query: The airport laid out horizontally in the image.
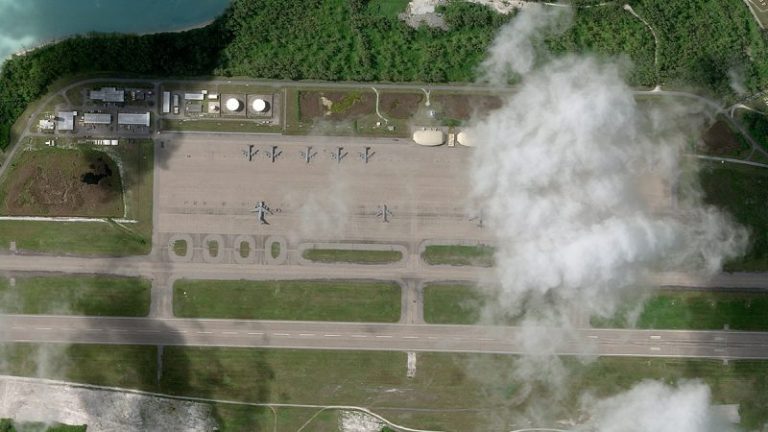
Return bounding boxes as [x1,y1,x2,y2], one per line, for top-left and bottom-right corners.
[0,133,768,382]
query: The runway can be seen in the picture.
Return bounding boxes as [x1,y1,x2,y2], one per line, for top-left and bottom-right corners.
[0,316,768,358]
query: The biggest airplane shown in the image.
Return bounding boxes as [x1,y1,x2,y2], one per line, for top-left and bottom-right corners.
[249,202,272,224]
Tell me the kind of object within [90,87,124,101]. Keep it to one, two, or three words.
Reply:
building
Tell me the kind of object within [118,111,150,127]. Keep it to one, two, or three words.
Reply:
building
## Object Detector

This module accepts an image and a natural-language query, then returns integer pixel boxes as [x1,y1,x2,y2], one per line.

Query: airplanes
[249,202,272,224]
[266,146,282,163]
[331,147,347,164]
[242,145,258,161]
[358,147,375,164]
[376,205,394,222]
[300,146,316,164]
